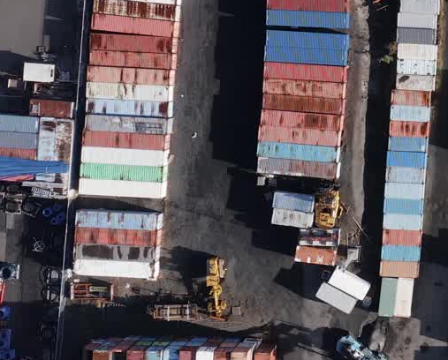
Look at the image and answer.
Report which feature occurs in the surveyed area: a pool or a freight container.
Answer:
freight container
